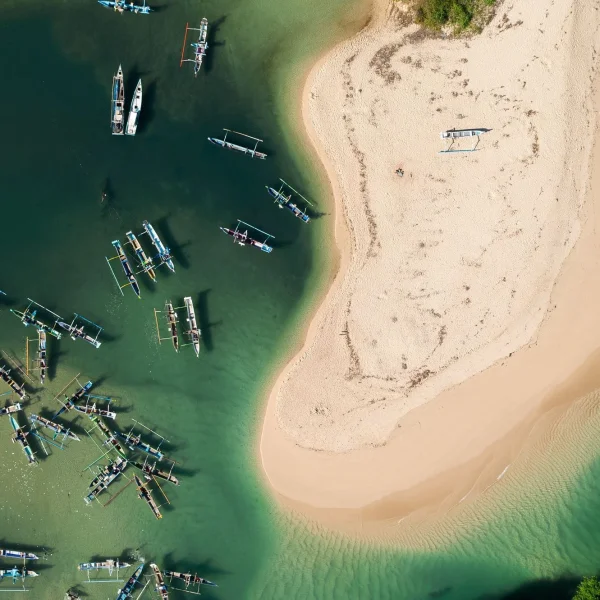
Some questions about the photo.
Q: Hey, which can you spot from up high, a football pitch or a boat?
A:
boat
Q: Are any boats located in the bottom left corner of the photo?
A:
Yes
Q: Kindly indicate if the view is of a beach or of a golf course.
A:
beach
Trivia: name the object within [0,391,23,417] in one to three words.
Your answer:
boat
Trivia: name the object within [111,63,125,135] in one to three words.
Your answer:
boat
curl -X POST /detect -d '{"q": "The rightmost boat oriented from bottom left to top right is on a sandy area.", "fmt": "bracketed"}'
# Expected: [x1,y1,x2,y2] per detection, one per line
[117,564,149,600]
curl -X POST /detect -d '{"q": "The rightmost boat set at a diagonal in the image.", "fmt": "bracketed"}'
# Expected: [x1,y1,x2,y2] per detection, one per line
[265,179,313,224]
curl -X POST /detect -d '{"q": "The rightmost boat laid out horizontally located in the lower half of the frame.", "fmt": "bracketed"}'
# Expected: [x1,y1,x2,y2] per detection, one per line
[163,570,219,595]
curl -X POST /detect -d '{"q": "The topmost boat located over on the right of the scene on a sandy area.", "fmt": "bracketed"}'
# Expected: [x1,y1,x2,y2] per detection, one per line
[438,130,486,153]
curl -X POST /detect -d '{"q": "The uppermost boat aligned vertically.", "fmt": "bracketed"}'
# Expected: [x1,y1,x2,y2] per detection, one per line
[180,16,208,78]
